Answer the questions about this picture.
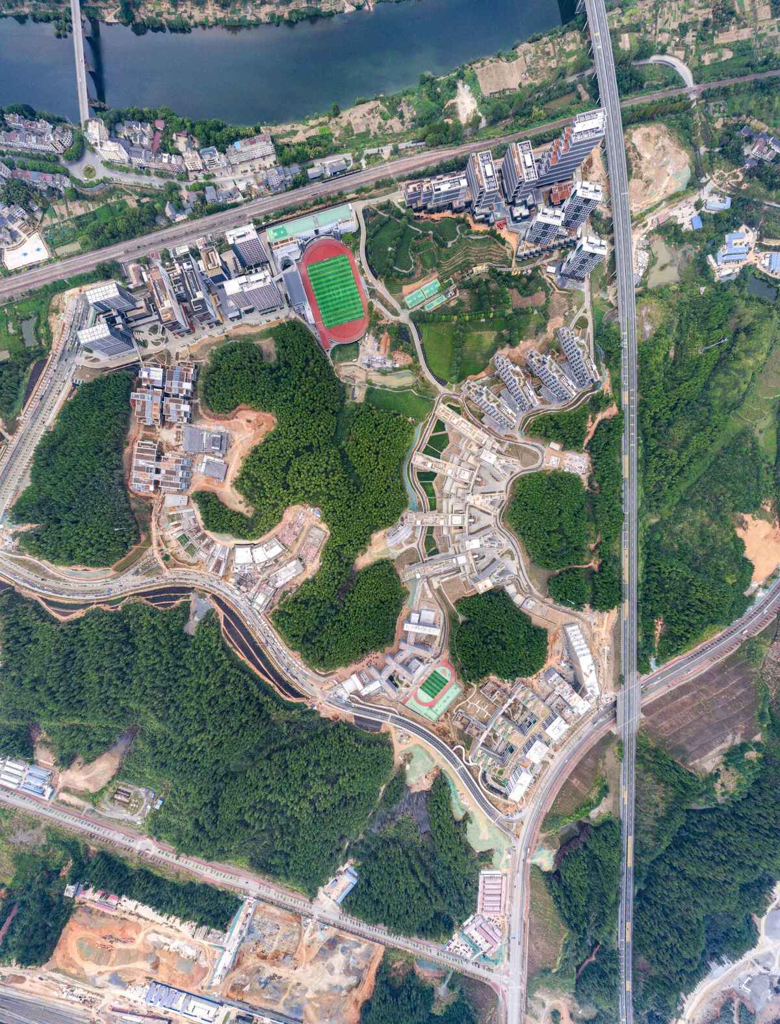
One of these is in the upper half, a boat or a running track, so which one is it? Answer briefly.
running track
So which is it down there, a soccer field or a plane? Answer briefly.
soccer field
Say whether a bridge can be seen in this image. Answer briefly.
Yes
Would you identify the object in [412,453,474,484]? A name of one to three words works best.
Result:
building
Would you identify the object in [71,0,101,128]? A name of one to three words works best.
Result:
bridge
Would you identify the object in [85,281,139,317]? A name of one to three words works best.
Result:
building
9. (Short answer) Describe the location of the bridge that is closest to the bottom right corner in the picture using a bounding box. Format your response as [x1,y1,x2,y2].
[566,0,642,1024]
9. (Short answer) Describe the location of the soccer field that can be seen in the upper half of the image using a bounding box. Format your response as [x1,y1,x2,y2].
[307,254,364,328]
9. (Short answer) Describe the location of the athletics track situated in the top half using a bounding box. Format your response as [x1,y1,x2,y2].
[298,239,372,346]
